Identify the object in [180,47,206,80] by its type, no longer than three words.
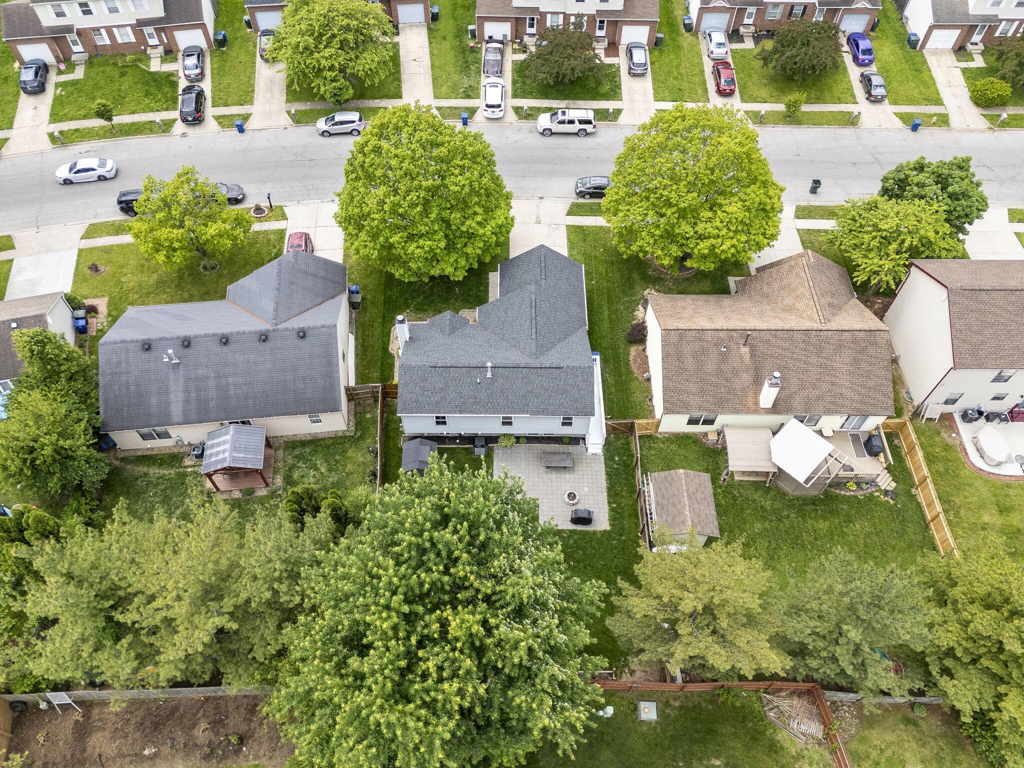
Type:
car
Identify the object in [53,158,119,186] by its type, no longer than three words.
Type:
car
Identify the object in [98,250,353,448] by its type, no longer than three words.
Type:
house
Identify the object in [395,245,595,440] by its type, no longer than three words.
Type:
house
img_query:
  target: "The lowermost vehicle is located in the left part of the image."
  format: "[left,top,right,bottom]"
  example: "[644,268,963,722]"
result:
[287,227,314,255]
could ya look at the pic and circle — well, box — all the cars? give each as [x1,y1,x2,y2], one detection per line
[178,86,207,122]
[287,227,314,255]
[18,59,52,91]
[859,70,890,102]
[482,34,505,75]
[256,30,281,59]
[180,47,206,80]
[111,185,175,215]
[577,175,619,200]
[315,109,367,137]
[537,107,598,138]
[712,61,737,94]
[626,43,649,74]
[481,78,506,115]
[845,34,876,65]
[704,28,729,59]
[53,158,119,186]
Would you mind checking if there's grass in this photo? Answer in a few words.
Yes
